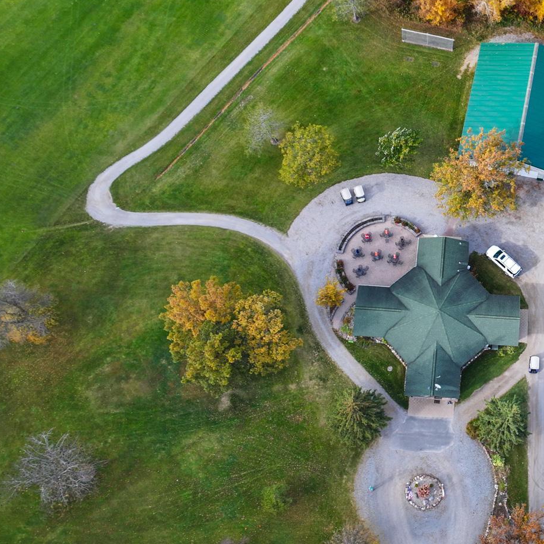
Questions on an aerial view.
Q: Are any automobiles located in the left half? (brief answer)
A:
No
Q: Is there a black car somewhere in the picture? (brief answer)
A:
No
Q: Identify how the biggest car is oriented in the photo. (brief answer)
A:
on a diagonal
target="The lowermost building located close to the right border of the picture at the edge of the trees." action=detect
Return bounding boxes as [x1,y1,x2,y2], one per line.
[352,237,520,400]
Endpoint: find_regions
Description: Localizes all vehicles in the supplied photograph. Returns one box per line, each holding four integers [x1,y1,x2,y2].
[486,246,523,281]
[341,187,354,206]
[354,184,367,203]
[527,356,539,375]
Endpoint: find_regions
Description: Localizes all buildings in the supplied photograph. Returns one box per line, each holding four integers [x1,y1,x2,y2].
[459,43,544,181]
[352,237,520,400]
